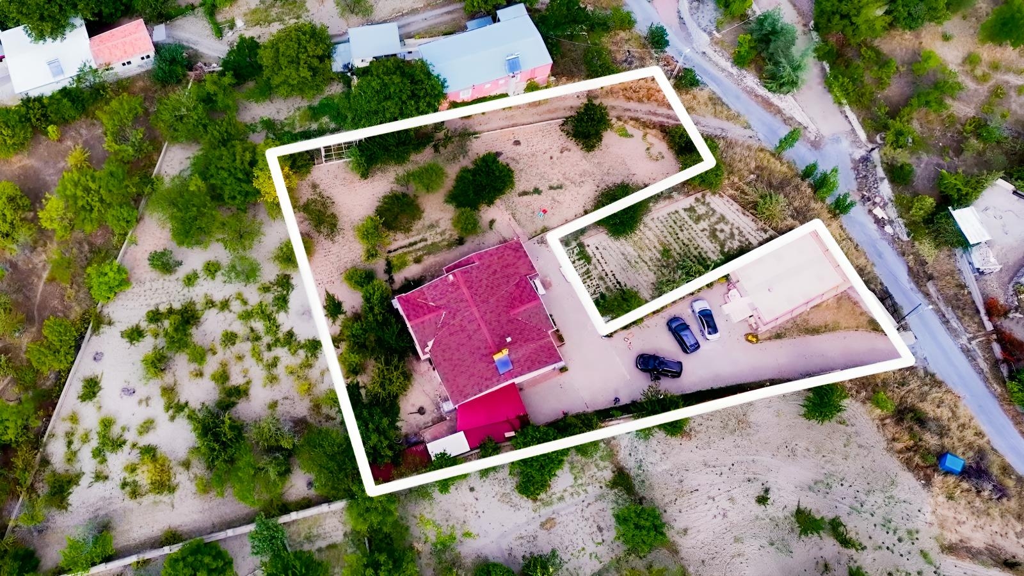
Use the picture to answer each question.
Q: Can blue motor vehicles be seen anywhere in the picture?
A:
Yes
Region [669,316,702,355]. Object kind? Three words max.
car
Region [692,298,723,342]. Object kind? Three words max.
car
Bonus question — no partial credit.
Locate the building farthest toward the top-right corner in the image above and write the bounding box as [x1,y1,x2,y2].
[728,228,851,330]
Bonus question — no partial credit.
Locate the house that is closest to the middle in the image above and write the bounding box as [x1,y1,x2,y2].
[395,239,565,414]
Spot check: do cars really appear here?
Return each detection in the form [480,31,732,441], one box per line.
[692,298,723,342]
[669,316,702,355]
[635,352,684,387]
